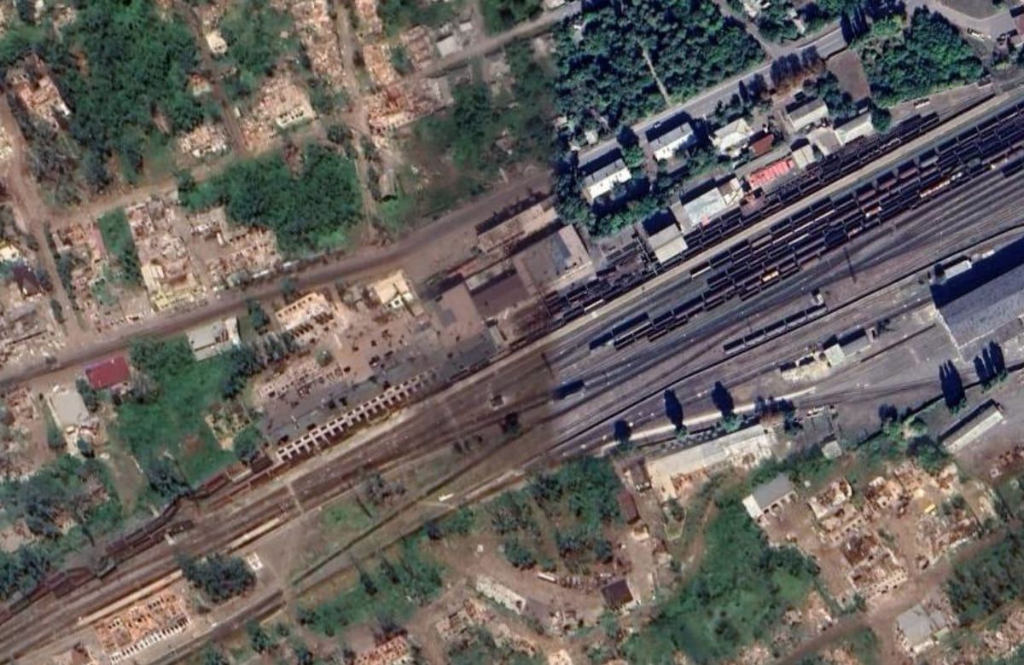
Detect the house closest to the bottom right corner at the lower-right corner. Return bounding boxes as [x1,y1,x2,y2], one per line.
[973,599,1024,658]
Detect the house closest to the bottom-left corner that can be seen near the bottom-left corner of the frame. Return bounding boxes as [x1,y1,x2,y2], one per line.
[50,637,100,665]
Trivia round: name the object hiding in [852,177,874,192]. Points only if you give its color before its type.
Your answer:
black rail car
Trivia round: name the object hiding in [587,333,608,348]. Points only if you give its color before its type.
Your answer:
black rail car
